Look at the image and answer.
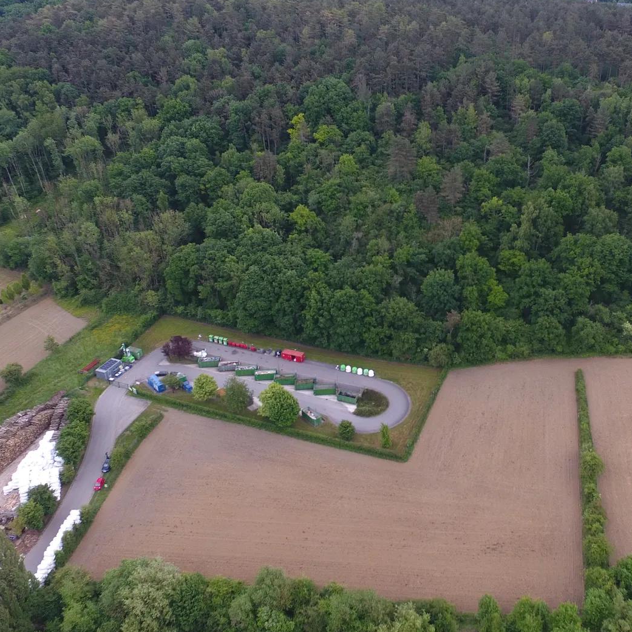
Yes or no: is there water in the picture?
No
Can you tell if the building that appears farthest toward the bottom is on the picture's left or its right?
left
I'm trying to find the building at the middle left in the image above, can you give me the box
[96,358,124,380]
